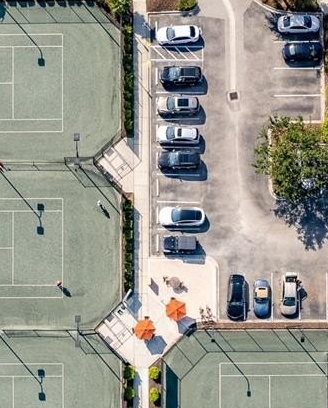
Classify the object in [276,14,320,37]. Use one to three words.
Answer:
car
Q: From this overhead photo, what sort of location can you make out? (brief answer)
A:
sports ground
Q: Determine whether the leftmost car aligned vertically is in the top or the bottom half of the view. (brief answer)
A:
bottom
